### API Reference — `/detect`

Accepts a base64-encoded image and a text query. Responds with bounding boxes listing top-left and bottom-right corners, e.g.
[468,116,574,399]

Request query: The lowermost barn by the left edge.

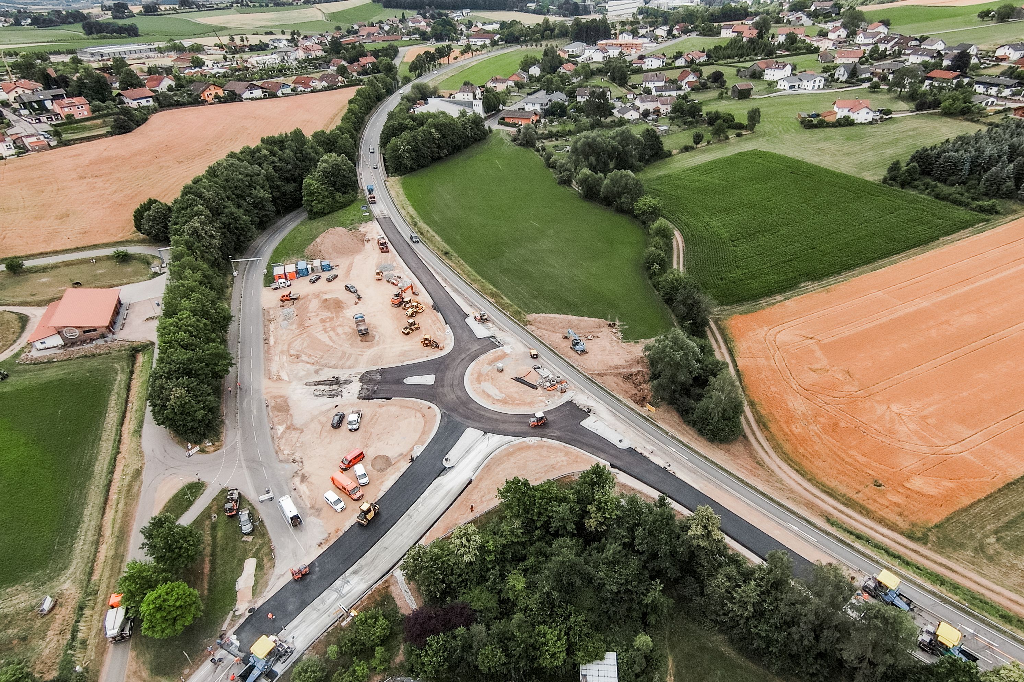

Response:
[15,289,124,354]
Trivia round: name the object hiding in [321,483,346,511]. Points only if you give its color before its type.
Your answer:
white car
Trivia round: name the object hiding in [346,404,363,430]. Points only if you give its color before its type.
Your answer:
white vehicle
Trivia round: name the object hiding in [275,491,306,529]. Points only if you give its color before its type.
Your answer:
white van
